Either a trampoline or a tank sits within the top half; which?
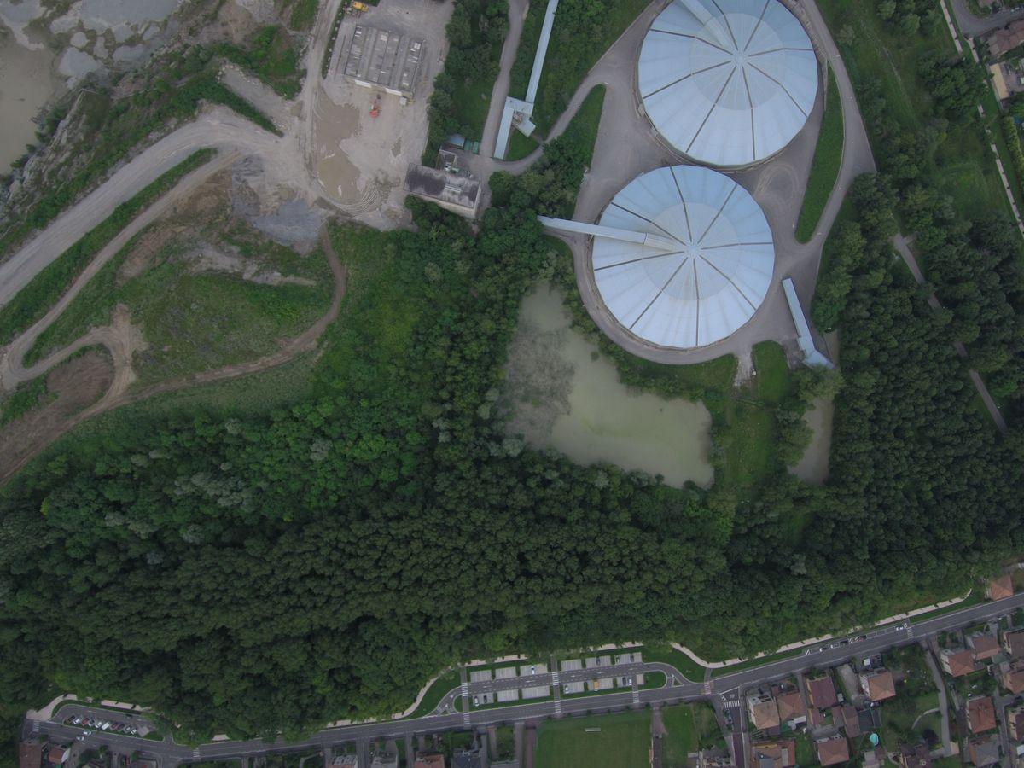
tank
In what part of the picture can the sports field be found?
bottom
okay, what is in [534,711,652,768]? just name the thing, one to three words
sports field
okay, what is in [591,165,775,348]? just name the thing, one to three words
storage tank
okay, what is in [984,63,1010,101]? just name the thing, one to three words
building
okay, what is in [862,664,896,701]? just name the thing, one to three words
house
